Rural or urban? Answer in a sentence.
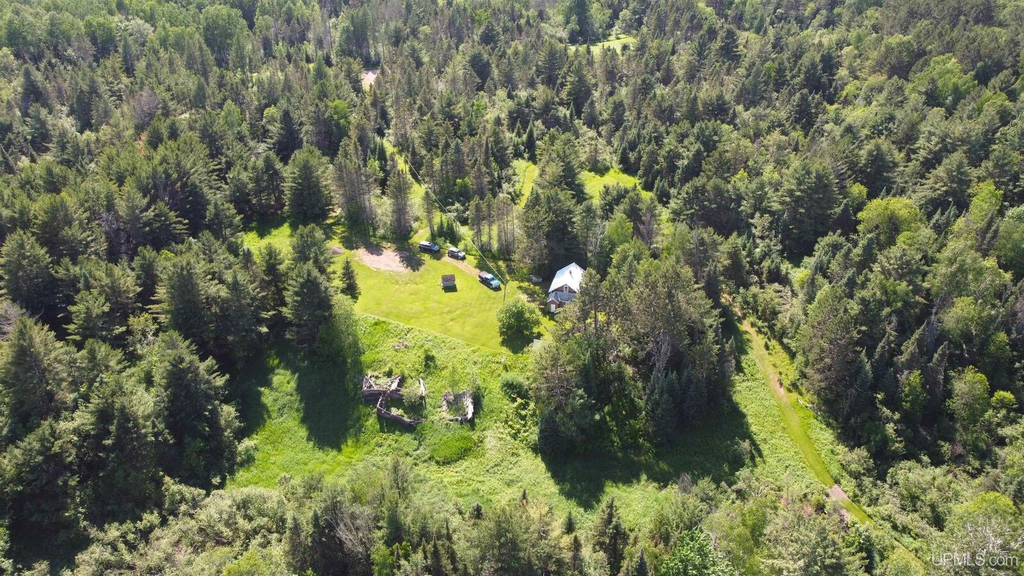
This place is rural.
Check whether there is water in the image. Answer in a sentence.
No, water can't be seen anywhere here.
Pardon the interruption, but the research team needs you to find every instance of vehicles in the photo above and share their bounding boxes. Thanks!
[446,246,467,260]
[476,272,503,288]
[418,240,441,253]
